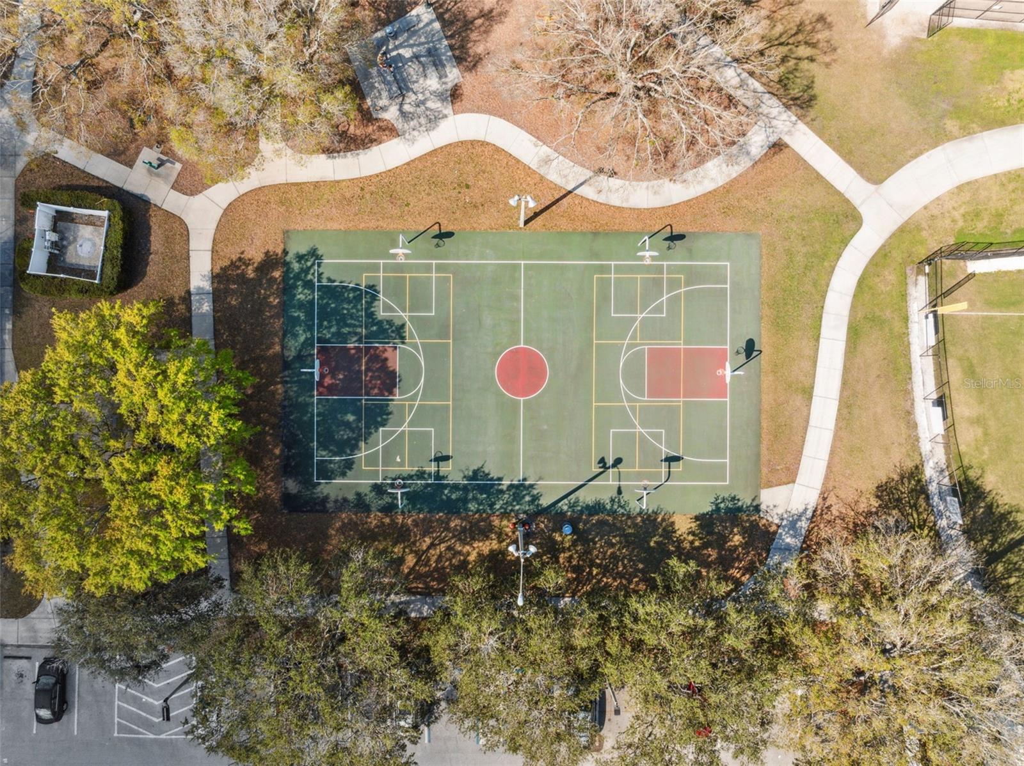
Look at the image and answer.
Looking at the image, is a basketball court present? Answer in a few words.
Yes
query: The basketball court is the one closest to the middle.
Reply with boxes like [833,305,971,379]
[283,230,761,514]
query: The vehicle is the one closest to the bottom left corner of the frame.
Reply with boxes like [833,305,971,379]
[30,661,67,727]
